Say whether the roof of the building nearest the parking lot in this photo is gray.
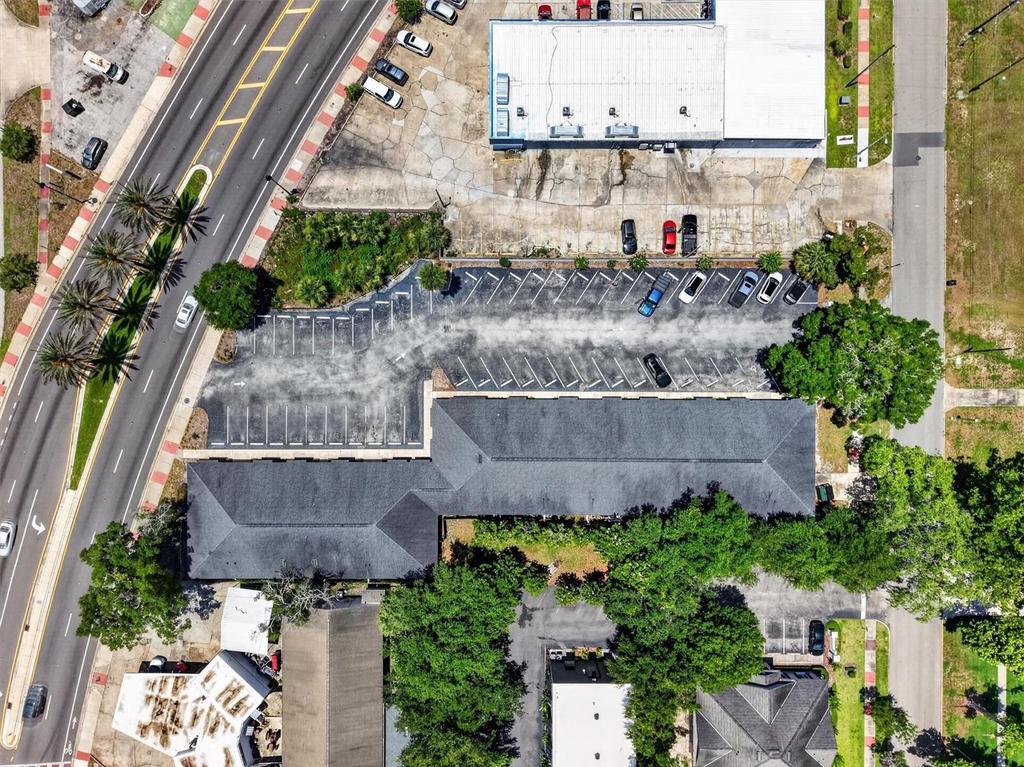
Yes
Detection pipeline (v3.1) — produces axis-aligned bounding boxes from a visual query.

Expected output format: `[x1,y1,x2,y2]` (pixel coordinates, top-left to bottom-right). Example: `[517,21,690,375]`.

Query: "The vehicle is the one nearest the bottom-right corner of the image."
[807,619,826,655]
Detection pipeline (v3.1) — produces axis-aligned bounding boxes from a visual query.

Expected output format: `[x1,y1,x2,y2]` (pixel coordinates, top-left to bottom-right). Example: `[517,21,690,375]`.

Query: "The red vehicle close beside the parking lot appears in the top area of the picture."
[661,221,678,255]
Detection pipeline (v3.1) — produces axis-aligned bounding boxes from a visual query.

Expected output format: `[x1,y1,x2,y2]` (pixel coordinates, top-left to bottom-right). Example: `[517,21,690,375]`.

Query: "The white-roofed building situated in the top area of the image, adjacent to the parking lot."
[489,0,825,152]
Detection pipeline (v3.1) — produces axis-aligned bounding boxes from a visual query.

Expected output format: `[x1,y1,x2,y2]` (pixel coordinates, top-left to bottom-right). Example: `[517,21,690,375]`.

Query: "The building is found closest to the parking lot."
[181,395,816,580]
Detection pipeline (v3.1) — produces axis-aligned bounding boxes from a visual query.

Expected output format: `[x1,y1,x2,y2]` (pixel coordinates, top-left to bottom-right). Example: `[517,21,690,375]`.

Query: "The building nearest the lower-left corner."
[111,650,273,767]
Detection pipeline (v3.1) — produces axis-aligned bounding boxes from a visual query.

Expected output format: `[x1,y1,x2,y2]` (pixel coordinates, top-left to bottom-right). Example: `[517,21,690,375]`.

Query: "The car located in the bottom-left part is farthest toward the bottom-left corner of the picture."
[22,681,49,723]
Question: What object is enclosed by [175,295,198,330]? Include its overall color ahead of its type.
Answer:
white car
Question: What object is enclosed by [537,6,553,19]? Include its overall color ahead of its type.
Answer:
red vehicle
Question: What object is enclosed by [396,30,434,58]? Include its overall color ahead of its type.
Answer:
white car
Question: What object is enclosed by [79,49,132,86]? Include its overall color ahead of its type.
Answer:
white van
